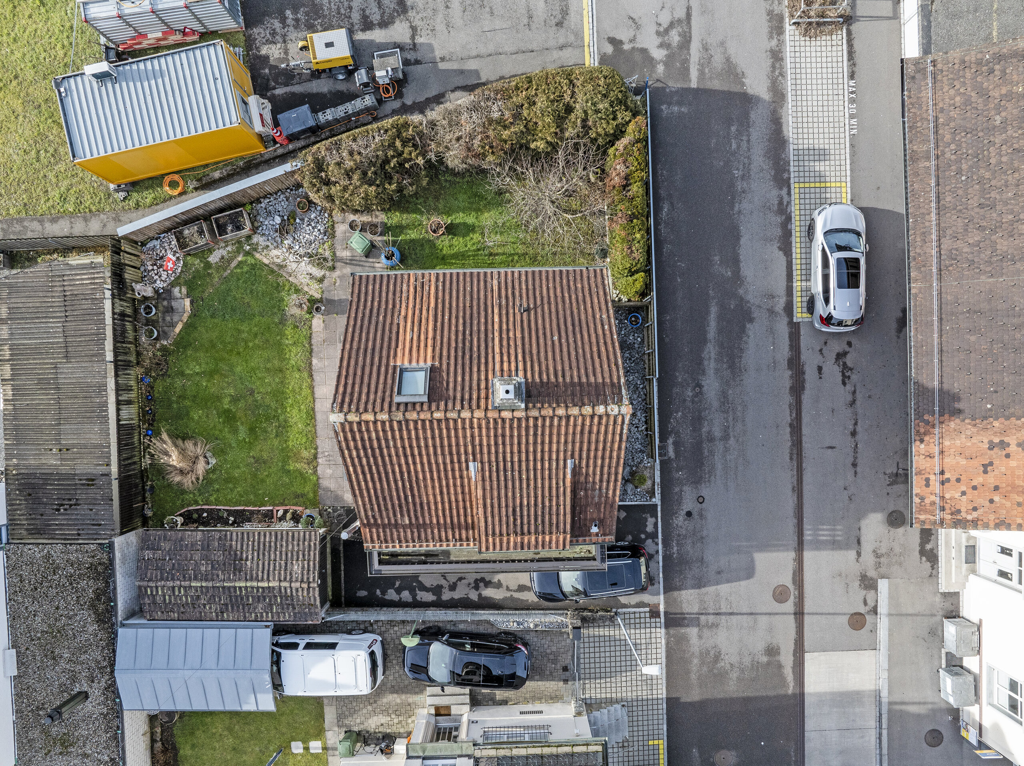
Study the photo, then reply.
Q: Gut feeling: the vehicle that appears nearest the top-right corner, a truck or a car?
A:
car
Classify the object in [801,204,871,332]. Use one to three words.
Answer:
car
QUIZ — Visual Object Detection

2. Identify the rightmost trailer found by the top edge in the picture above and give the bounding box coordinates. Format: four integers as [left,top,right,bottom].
[289,29,359,79]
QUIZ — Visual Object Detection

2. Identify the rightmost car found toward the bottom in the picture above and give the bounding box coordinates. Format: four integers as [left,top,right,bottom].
[527,536,655,610]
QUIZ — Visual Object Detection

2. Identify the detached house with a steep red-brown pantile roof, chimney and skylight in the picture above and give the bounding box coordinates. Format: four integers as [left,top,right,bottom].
[327,263,634,577]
